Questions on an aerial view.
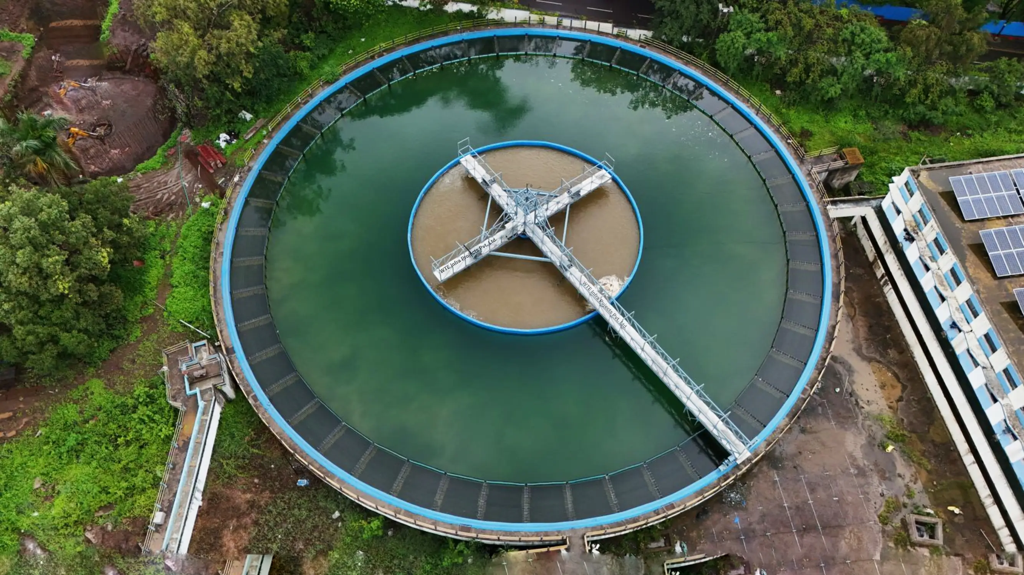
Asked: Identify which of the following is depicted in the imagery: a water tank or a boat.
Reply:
water tank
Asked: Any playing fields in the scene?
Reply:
No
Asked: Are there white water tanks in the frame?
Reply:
No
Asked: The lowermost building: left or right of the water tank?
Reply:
to the right of it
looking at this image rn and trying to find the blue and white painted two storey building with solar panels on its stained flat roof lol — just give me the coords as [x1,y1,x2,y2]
[884,152,1024,484]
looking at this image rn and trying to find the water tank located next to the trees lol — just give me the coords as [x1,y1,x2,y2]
[210,23,844,553]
